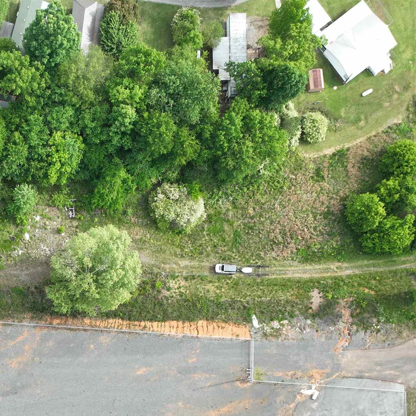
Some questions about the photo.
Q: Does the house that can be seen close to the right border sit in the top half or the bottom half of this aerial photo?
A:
top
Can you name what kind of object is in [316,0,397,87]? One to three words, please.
house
